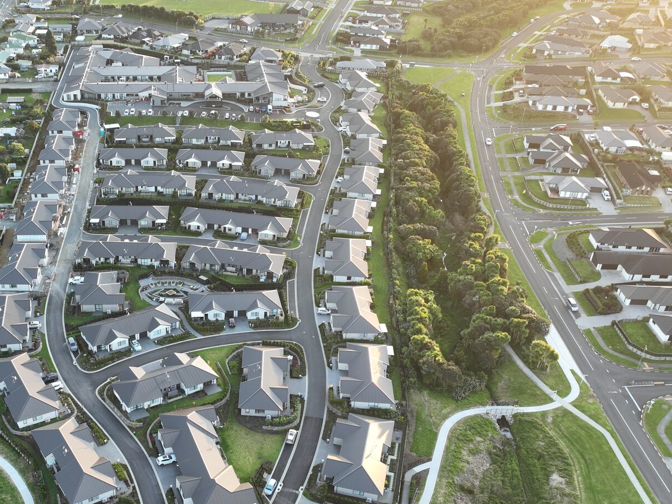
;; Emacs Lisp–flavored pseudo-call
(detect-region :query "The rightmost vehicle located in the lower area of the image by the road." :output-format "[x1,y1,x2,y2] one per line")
[564,299,580,314]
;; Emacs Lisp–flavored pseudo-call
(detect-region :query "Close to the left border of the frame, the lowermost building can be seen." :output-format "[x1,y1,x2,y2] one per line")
[30,415,131,504]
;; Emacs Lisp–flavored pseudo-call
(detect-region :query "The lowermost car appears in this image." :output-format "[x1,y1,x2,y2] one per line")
[264,476,277,493]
